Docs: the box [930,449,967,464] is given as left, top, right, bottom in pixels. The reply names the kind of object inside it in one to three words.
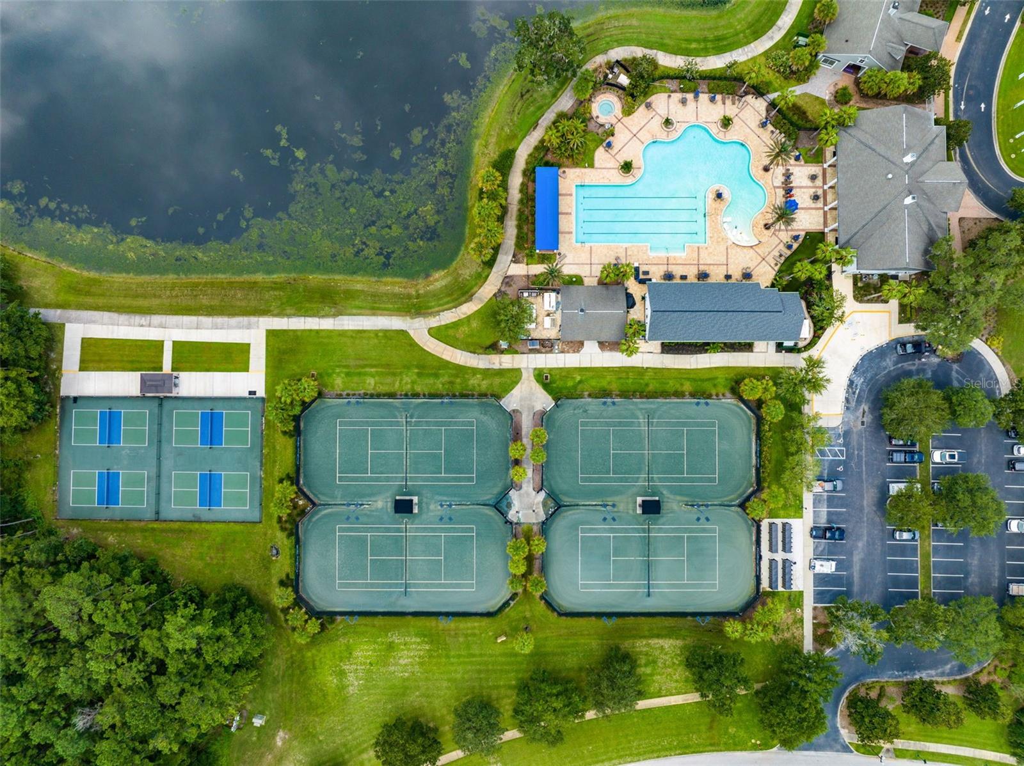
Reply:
vehicle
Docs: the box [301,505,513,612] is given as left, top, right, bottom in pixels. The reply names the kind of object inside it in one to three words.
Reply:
tennis court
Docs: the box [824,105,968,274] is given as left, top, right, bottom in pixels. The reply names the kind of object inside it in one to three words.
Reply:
building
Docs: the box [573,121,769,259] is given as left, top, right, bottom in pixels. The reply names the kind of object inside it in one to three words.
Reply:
swimming pool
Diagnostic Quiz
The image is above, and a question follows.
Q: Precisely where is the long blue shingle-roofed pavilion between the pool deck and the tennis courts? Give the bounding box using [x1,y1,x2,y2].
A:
[646,282,812,345]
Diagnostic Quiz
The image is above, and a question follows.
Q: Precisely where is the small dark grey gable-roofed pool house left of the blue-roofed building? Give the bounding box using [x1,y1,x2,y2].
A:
[561,285,627,341]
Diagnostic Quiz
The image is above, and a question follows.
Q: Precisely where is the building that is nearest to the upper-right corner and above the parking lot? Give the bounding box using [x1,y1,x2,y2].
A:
[815,0,949,78]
